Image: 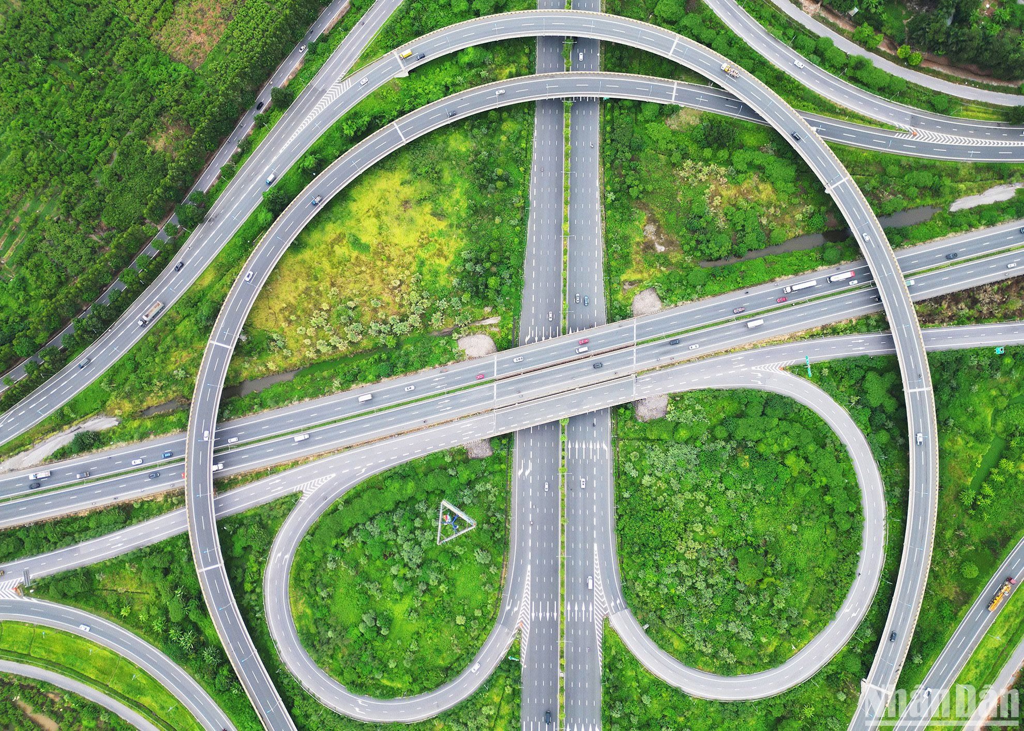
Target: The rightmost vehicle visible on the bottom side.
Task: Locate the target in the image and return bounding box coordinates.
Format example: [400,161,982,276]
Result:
[990,581,1015,610]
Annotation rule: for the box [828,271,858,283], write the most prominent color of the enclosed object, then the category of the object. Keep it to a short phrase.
white vehicle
